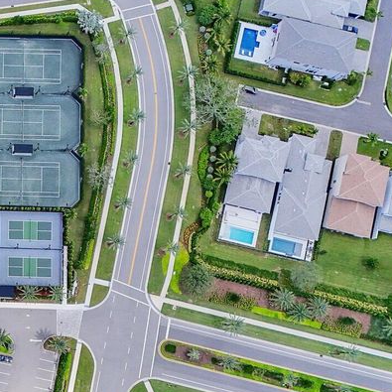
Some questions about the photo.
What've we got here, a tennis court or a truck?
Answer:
tennis court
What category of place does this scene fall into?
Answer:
residential area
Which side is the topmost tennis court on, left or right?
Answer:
left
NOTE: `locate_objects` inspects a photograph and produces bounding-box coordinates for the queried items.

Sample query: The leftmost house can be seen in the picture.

[226,137,291,213]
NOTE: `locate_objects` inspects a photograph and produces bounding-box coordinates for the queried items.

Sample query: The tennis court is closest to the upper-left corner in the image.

[0,37,83,93]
